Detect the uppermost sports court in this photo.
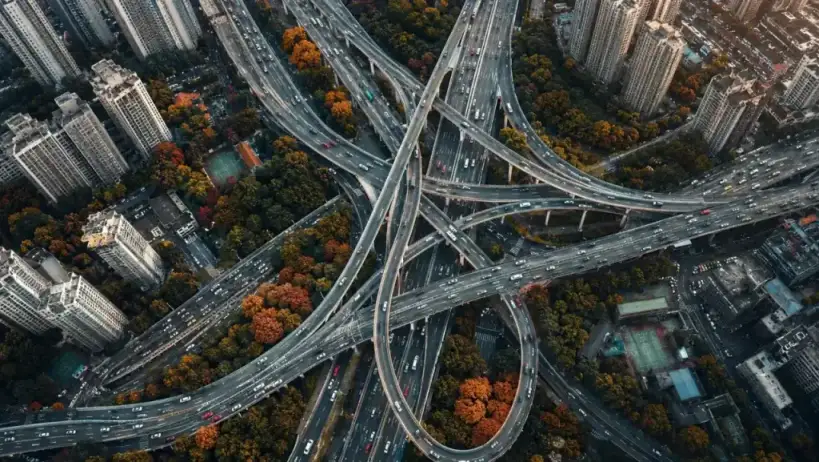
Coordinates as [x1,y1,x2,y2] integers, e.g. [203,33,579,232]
[206,148,247,184]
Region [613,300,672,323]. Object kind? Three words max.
building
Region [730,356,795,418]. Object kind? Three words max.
building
